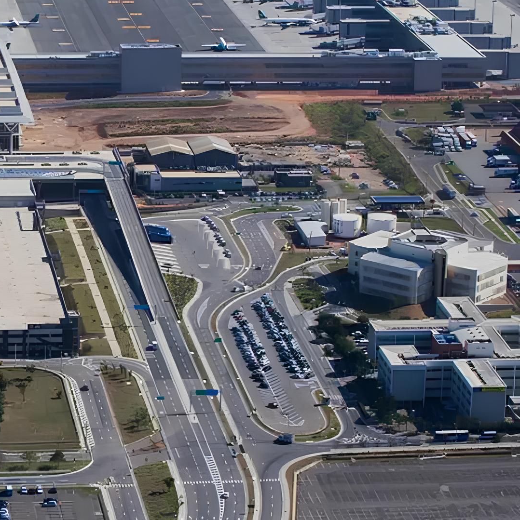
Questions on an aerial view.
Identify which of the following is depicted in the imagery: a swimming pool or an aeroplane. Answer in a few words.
aeroplane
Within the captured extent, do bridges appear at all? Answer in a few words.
Yes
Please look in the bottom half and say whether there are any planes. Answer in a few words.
No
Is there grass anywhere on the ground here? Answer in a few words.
Yes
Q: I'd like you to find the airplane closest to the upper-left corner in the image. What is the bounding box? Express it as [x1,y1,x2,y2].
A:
[0,10,38,27]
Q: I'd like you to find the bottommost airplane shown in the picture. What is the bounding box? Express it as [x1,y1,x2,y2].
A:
[194,36,250,49]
